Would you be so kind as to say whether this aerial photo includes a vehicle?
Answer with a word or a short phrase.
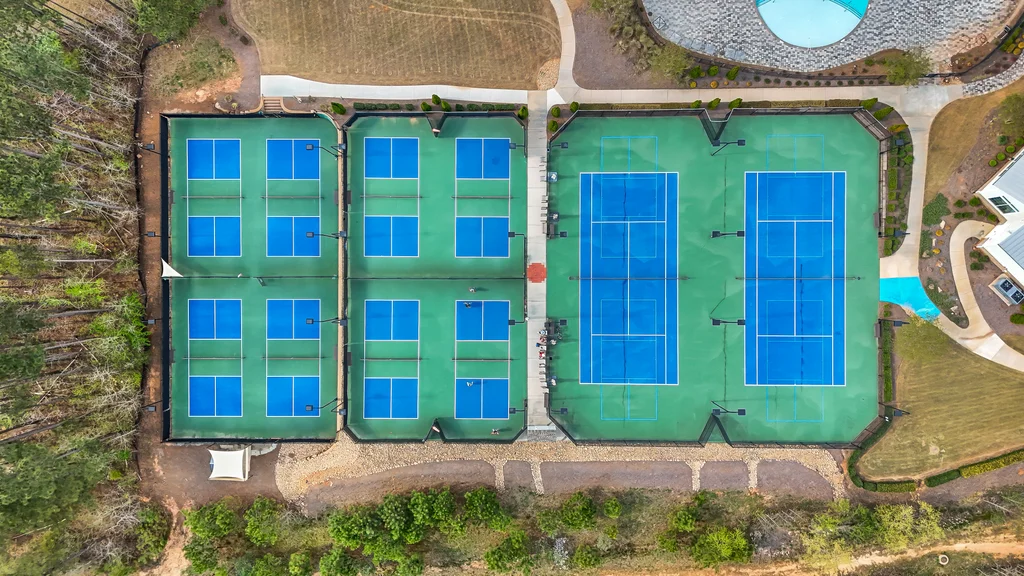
No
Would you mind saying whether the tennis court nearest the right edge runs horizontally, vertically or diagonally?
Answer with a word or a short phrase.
vertically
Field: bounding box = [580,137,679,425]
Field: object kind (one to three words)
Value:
tennis court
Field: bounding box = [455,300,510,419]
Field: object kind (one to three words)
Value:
sports court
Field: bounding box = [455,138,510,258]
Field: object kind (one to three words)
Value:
sports court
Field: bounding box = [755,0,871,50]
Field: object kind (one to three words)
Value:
swimming pool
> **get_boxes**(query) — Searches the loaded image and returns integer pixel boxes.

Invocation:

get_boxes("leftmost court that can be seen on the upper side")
[187,138,241,257]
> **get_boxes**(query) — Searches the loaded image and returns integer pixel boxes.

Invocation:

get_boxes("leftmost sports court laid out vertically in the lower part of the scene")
[188,299,242,417]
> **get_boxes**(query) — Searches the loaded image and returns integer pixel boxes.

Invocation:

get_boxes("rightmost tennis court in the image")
[745,135,847,422]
